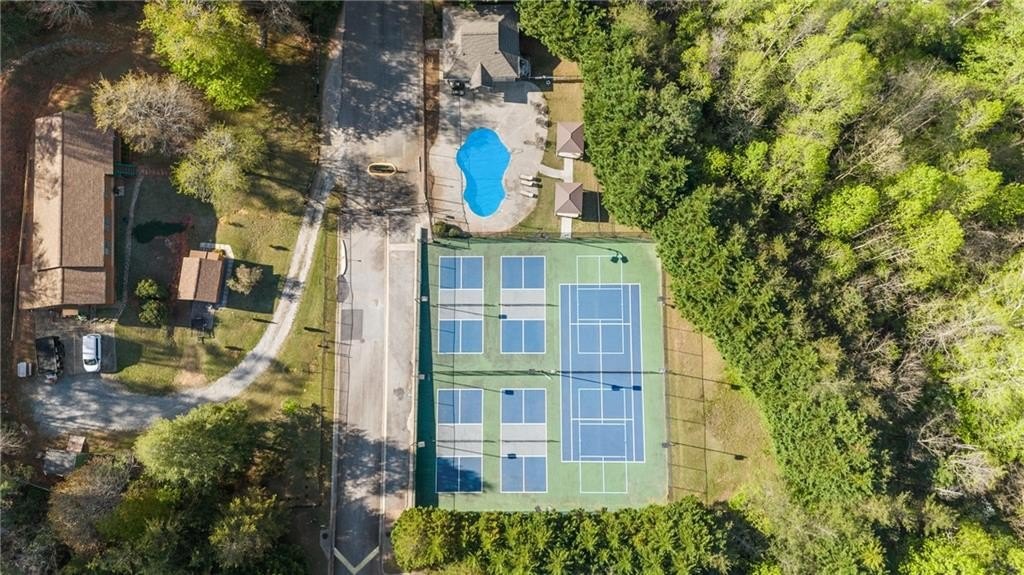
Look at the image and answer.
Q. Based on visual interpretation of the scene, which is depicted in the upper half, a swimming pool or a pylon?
swimming pool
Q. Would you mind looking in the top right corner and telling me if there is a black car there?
No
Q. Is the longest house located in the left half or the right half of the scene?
left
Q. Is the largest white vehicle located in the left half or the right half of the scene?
left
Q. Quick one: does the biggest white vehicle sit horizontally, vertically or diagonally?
vertically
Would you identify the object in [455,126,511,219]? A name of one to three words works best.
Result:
swimming pool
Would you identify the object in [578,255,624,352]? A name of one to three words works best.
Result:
sports court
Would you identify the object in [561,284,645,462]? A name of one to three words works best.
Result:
tennis court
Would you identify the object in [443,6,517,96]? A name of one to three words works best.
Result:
building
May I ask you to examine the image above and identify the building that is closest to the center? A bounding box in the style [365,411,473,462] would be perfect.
[555,183,582,217]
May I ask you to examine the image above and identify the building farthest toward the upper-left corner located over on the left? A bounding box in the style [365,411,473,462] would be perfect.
[17,112,125,315]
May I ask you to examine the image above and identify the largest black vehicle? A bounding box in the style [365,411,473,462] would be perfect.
[37,337,61,380]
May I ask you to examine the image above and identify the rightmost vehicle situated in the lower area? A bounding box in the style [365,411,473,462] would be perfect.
[80,334,102,374]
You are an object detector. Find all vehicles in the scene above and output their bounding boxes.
[14,361,33,378]
[37,337,61,380]
[80,334,102,374]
